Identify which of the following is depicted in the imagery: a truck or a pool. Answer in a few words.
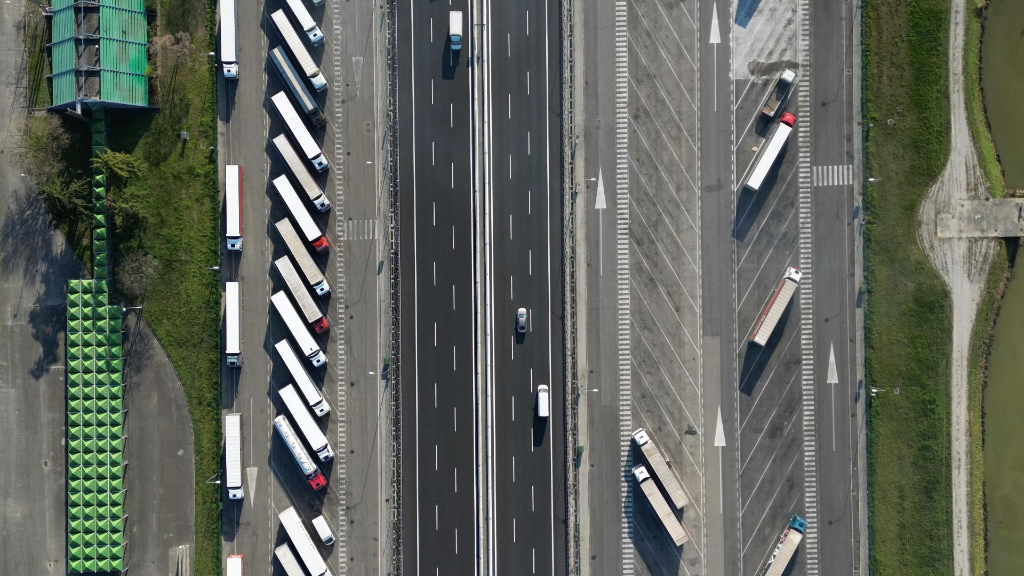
truck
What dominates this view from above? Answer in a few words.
paved ground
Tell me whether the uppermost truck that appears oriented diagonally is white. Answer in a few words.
Yes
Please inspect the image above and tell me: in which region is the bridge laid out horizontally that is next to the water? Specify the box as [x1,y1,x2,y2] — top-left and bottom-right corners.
[937,198,1024,238]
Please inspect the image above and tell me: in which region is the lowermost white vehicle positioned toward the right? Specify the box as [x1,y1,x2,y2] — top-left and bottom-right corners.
[760,512,810,576]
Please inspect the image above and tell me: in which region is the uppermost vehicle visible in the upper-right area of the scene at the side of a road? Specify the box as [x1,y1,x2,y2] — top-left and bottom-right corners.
[760,70,796,118]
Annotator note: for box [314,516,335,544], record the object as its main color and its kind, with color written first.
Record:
white vehicle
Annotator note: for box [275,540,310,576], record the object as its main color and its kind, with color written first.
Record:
white truck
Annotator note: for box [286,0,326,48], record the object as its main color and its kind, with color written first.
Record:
white truck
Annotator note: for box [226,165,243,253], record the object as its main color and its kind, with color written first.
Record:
white vehicle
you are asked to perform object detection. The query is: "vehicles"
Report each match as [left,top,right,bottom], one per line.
[270,289,330,370]
[273,134,333,215]
[313,0,325,6]
[275,540,310,576]
[275,217,333,299]
[226,414,244,502]
[751,265,805,345]
[274,337,333,418]
[273,175,332,256]
[630,462,688,545]
[276,414,330,492]
[271,9,330,93]
[314,516,335,544]
[226,165,243,253]
[226,282,243,369]
[744,110,799,193]
[220,0,239,81]
[270,46,329,129]
[286,0,326,48]
[632,426,689,509]
[227,554,245,576]
[275,255,332,336]
[760,512,810,576]
[279,383,338,463]
[280,506,338,576]
[272,92,332,174]
[450,12,463,50]
[760,70,796,118]
[536,384,549,417]
[516,308,527,332]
